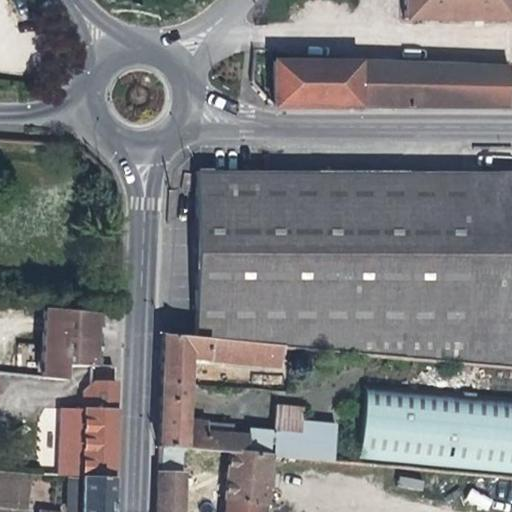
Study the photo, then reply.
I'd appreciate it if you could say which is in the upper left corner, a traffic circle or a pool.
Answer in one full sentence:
You can see a traffic circle in the upper left corner.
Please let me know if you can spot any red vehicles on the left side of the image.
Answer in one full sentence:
No, the scene shows no red vehicle on the left side of the image.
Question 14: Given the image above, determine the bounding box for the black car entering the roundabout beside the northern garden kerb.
[160,28,182,44]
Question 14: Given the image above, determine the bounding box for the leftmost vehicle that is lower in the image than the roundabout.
[120,160,134,184]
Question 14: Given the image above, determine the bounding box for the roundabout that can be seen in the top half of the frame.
[92,50,184,142]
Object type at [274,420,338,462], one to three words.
shed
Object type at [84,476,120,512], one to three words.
house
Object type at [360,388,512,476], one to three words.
building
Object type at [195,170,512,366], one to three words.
warehouse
